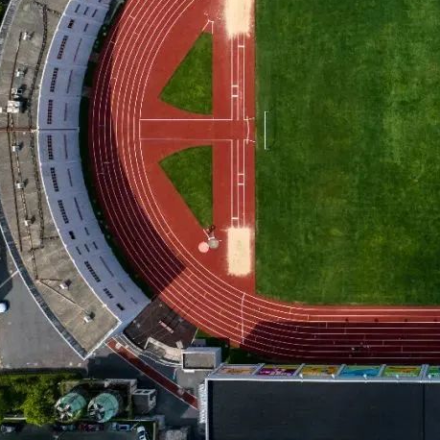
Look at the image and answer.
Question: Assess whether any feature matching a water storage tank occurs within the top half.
No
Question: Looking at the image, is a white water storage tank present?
No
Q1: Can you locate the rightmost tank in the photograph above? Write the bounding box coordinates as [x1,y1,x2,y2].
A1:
[86,390,119,419]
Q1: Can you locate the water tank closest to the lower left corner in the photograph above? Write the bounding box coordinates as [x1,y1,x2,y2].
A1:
[55,390,88,418]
